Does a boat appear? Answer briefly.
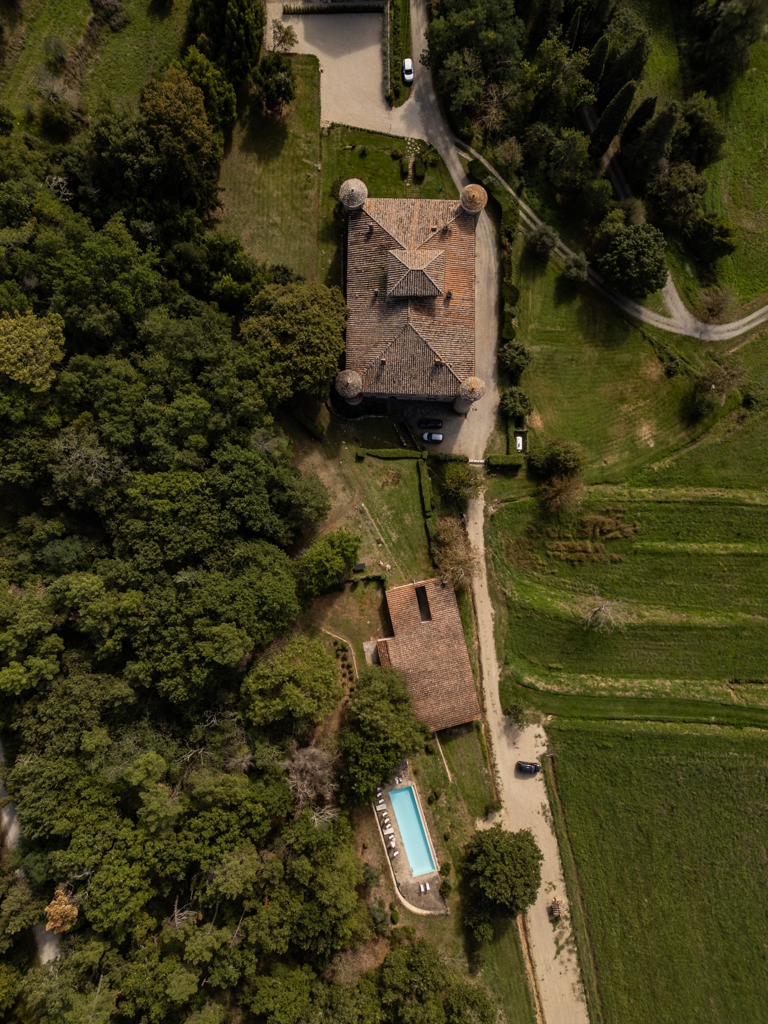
No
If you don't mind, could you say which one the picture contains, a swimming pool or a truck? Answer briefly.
swimming pool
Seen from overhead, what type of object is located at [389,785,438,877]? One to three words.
swimming pool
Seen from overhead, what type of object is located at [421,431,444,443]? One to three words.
vehicle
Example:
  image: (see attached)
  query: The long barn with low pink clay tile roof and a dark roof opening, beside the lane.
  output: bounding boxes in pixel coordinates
[376,577,482,731]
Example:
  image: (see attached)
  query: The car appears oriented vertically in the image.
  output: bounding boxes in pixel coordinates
[402,57,414,84]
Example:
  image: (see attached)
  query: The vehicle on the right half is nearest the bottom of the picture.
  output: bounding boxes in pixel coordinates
[514,759,538,773]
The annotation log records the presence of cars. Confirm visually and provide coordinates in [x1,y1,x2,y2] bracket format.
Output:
[421,431,444,443]
[418,418,442,429]
[402,57,414,84]
[514,759,538,773]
